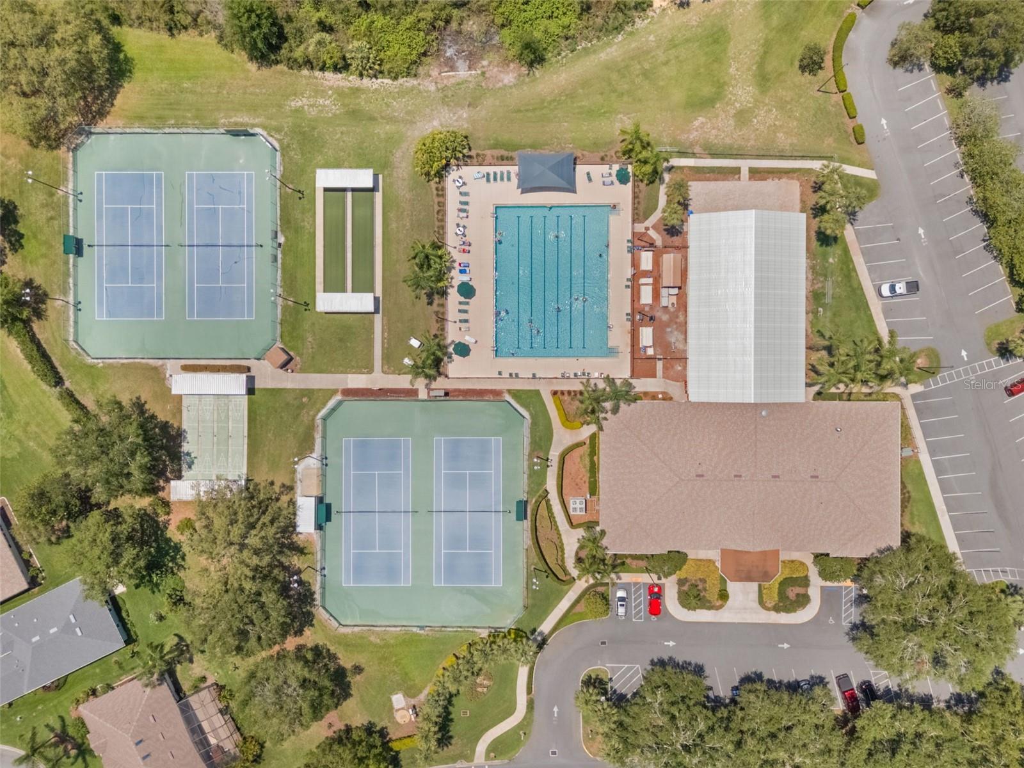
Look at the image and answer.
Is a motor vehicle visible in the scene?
Yes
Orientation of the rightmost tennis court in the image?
from top to bottom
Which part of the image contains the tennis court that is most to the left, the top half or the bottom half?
top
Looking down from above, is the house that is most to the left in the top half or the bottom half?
bottom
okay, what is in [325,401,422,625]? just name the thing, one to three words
tennis court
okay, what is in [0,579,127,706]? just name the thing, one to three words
house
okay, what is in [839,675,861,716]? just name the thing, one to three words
truck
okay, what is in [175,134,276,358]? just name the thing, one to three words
tennis court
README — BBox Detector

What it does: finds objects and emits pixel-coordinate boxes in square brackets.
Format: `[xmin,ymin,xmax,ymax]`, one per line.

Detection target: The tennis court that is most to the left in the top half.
[78,134,175,358]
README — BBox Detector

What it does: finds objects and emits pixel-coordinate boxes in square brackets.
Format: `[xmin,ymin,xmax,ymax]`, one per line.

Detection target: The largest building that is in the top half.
[682,209,806,403]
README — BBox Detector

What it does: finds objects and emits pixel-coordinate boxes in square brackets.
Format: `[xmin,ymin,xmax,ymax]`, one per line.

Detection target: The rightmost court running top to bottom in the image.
[422,401,524,625]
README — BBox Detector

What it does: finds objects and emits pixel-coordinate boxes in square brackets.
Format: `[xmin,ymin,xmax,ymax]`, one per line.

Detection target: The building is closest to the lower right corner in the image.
[599,401,901,583]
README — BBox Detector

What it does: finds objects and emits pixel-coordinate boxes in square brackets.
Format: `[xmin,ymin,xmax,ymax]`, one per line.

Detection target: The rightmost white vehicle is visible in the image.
[880,279,922,296]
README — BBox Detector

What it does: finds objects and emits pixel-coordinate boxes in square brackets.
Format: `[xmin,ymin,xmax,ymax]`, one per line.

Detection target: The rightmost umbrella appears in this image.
[615,168,631,184]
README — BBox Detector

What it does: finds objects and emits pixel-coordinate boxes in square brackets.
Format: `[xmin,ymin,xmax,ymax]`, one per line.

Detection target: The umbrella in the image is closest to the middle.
[453,340,471,358]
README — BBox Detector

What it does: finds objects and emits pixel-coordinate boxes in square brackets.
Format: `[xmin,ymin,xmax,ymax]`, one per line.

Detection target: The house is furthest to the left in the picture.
[0,517,35,600]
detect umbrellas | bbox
[615,168,631,184]
[453,340,471,358]
[457,281,476,300]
